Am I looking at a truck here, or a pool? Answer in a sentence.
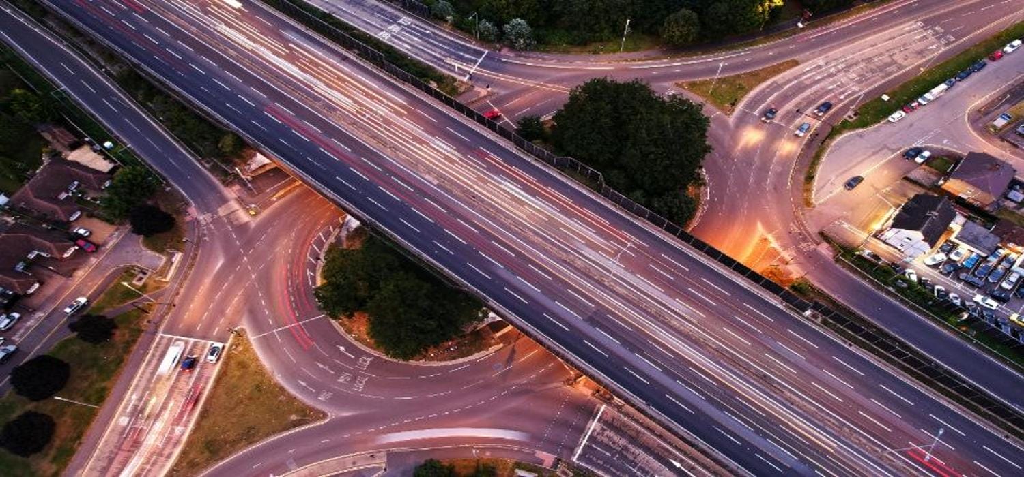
Of the two, only a truck appears.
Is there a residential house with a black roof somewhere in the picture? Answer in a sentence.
Yes, the photo shows a residential house with a black roof.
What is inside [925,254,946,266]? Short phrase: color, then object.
white vehicle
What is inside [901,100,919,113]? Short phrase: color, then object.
red vehicle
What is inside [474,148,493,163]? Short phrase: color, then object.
red car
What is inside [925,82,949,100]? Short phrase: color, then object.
white vehicle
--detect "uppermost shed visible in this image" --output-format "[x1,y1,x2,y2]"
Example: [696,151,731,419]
[38,125,85,157]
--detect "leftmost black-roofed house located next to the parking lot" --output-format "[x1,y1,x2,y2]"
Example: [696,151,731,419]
[882,193,957,249]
